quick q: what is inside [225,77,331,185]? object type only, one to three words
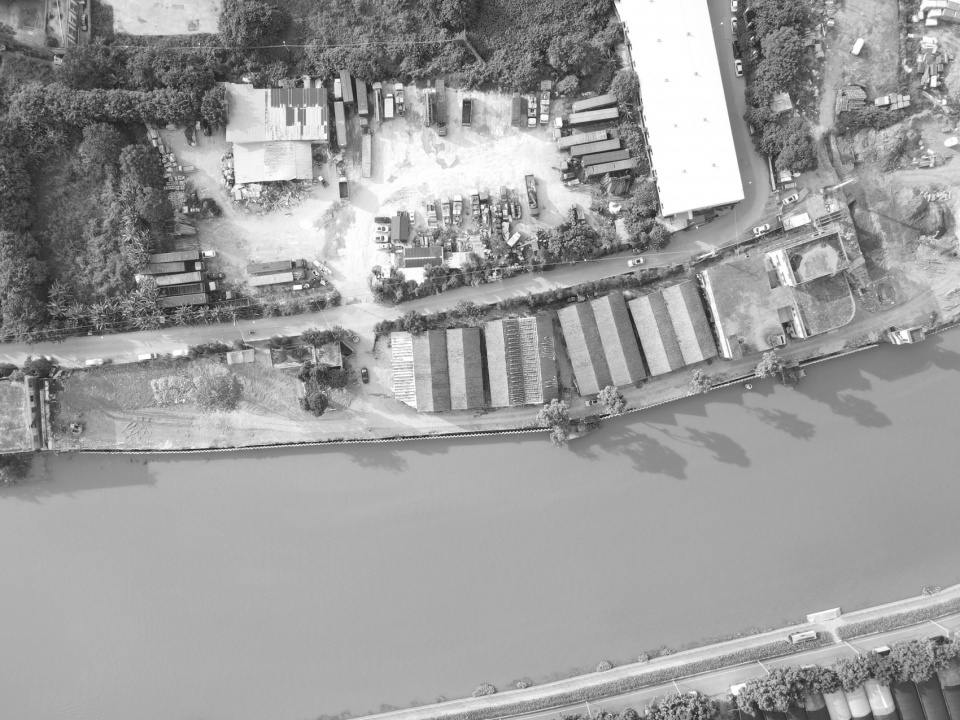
barn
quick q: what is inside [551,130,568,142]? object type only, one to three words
vehicle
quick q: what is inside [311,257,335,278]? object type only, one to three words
truck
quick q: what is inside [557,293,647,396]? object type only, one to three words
shed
